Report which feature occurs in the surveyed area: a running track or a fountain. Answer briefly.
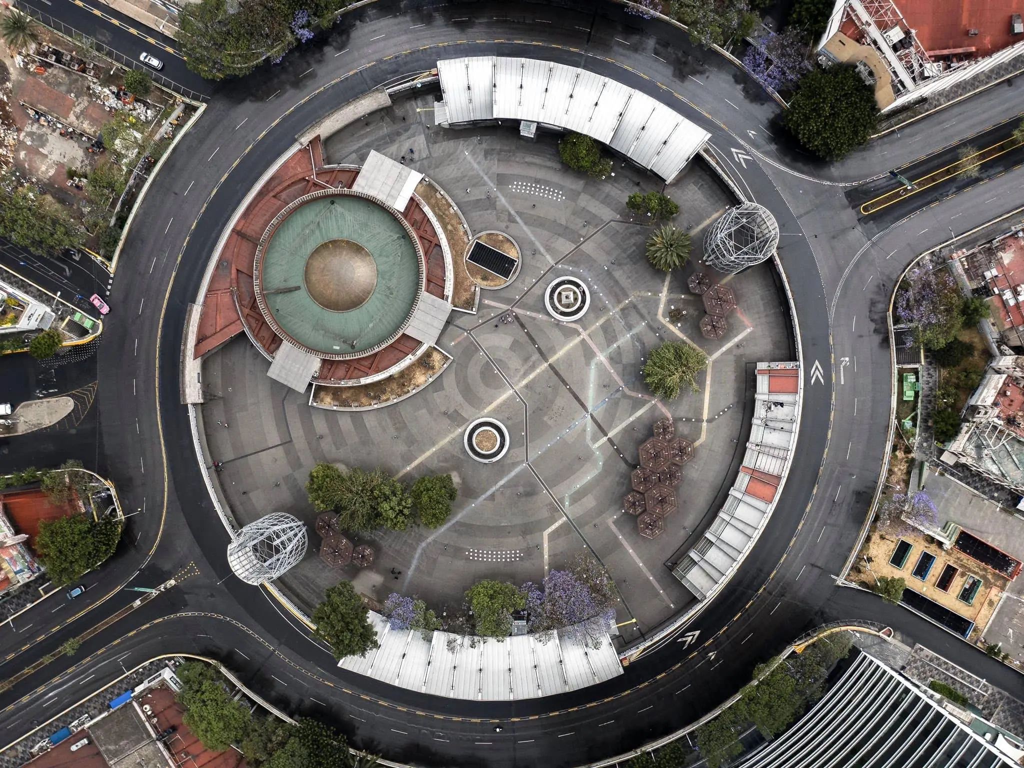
fountain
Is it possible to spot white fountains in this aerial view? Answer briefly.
Yes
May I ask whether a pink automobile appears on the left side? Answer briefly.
Yes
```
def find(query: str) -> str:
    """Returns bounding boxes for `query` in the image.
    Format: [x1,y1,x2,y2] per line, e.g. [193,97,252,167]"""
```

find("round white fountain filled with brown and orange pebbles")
[465,418,508,462]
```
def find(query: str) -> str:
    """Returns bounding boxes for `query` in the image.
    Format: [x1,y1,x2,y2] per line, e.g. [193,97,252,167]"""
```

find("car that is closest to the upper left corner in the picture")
[138,51,162,69]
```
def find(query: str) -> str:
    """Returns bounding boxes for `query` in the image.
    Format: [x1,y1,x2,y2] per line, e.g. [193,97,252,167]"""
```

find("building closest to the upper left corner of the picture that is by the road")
[0,282,56,335]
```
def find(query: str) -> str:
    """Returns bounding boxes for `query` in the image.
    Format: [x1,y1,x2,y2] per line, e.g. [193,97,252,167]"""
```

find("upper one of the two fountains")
[546,277,589,320]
